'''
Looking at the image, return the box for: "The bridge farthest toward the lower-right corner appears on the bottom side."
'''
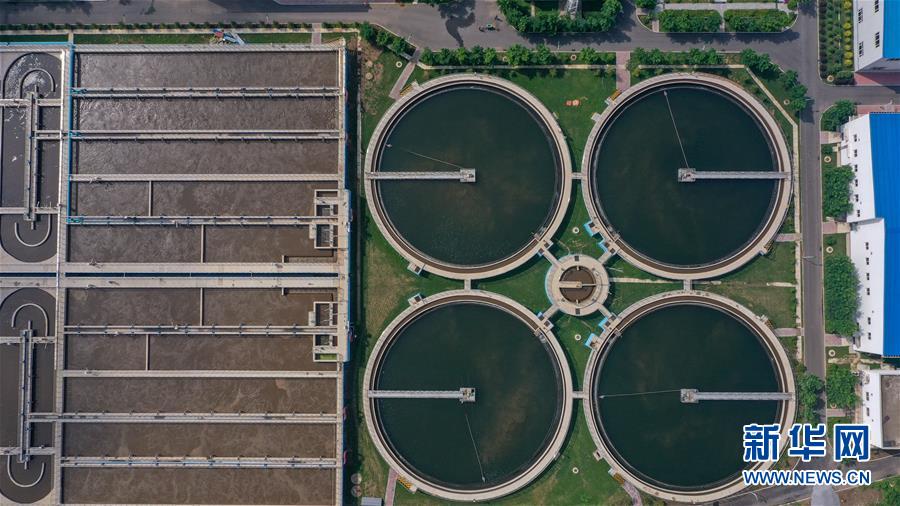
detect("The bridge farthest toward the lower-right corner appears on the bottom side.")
[680,388,798,403]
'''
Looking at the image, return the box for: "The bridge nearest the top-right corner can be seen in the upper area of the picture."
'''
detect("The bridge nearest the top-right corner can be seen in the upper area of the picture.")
[678,168,794,182]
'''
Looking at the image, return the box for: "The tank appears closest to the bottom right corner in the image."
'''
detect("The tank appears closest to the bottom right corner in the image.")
[583,290,798,506]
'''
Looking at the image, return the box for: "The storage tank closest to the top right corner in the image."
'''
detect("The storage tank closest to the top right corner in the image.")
[580,70,794,280]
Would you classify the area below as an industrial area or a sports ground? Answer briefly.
industrial area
